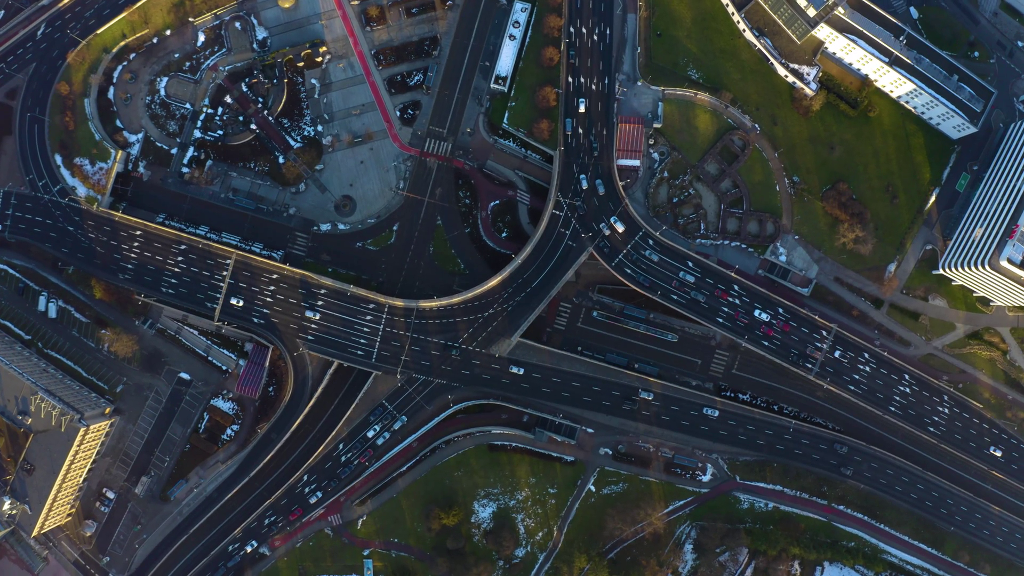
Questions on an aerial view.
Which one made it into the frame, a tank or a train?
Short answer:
train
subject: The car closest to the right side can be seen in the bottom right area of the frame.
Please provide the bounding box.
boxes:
[989,446,1005,458]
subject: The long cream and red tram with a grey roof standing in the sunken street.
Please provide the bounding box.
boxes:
[591,311,677,340]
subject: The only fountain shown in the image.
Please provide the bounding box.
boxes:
[334,194,356,217]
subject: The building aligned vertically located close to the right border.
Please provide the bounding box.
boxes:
[932,104,1024,306]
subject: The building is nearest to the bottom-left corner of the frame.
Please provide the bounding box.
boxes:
[0,527,57,573]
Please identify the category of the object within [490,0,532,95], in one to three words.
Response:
building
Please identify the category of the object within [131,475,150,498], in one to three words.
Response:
vehicle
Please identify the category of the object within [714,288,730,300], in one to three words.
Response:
vehicle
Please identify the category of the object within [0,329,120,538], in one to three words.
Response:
building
